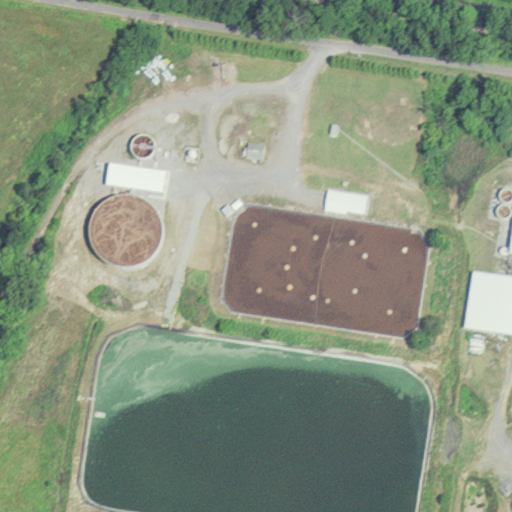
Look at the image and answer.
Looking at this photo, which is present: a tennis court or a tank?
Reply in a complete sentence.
I can see a tank in this picture.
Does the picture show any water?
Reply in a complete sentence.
Yes, some water is visible.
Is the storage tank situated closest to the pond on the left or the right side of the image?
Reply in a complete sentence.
The storage tank situated closest to the pond sits on the left side.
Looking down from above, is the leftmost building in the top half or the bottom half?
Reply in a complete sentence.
The leftmost building is in the top half of the image.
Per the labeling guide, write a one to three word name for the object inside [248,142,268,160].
house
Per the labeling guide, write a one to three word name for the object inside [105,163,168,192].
building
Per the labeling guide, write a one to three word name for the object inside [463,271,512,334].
building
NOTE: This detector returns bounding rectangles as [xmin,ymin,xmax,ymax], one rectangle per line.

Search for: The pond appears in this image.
[82,325,434,512]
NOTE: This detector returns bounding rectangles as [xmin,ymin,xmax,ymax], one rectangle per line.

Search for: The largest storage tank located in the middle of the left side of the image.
[89,192,164,268]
